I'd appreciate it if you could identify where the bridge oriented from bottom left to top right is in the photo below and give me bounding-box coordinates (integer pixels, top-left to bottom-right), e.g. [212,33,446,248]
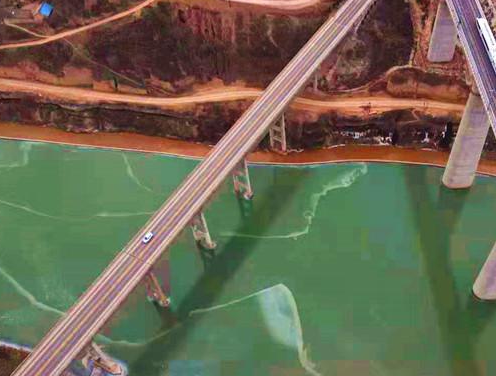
[11,0,375,376]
